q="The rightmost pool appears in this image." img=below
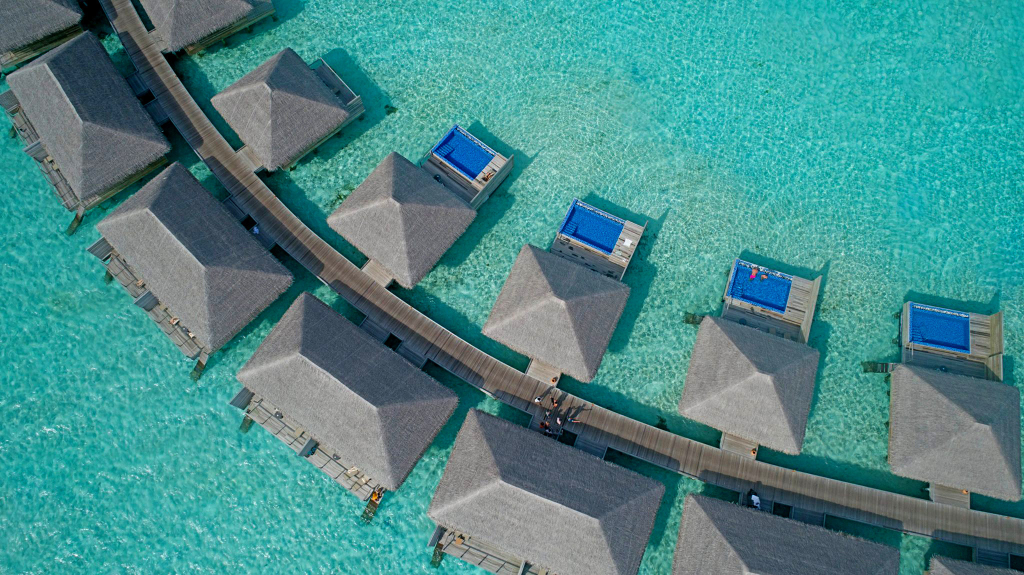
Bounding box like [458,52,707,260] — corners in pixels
[902,300,971,354]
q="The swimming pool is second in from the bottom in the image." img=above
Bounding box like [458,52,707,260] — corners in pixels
[724,260,795,316]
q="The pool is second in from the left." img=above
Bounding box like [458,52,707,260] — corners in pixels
[557,199,625,255]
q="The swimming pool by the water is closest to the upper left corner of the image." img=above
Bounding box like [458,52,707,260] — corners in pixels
[432,125,500,183]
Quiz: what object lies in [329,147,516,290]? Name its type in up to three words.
house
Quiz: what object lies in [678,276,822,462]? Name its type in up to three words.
house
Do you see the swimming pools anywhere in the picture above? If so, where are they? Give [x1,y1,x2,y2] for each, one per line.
[432,125,500,183]
[724,260,795,316]
[557,199,625,255]
[902,300,971,354]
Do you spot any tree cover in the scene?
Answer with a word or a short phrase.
No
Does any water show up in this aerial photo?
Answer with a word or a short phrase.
Yes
